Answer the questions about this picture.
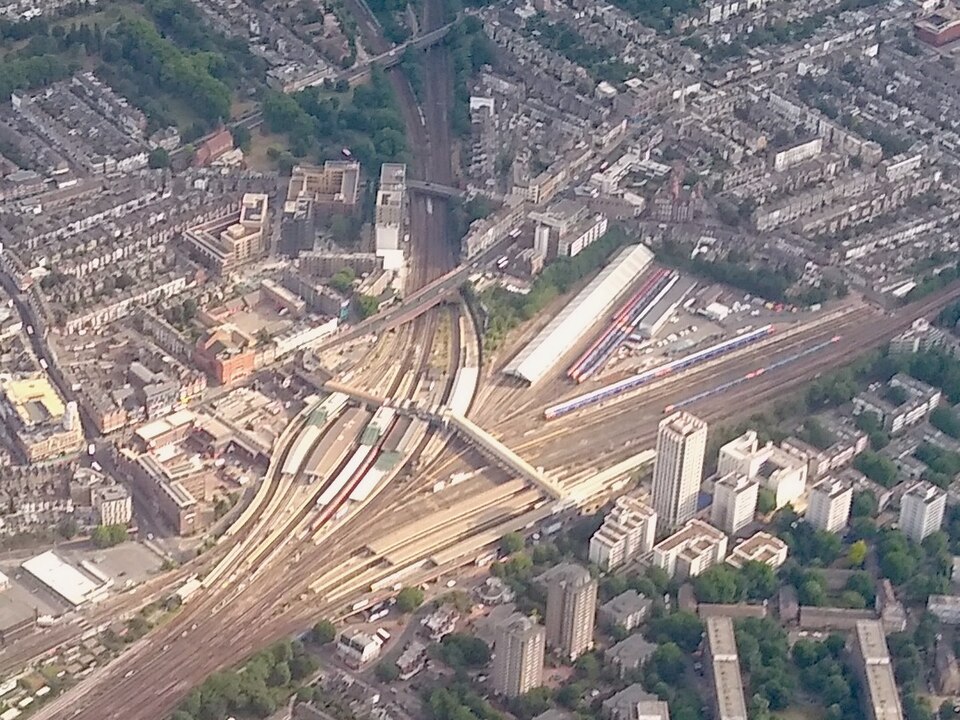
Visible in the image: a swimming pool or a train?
train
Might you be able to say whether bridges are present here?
Yes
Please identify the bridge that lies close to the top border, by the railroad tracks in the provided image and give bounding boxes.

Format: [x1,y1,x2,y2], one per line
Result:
[302,7,486,90]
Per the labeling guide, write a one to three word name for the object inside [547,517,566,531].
vehicle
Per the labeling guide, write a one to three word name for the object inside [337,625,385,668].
house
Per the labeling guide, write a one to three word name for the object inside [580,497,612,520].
shed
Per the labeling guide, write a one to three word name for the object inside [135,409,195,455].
building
